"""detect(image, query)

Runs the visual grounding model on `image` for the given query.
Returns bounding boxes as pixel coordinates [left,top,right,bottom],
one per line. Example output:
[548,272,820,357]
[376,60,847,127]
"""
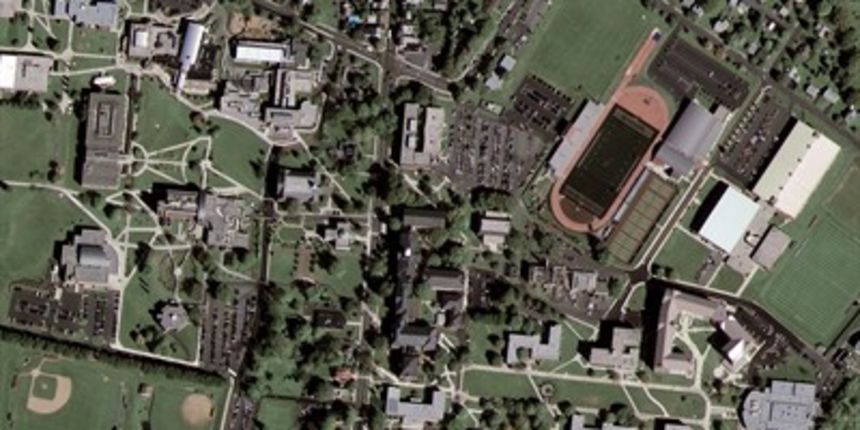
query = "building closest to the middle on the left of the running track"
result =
[403,207,447,229]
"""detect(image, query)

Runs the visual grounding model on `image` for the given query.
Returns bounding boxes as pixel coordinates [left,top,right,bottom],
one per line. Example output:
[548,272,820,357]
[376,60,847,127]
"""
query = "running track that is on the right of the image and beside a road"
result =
[547,29,669,233]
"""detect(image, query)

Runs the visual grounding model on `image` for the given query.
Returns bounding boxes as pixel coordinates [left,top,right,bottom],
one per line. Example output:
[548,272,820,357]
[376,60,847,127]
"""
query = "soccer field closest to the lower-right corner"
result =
[758,218,860,350]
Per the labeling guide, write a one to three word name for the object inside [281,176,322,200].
building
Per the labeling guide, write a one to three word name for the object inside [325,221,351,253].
house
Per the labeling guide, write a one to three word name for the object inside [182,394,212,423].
baseball field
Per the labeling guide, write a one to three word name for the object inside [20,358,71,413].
baseball field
